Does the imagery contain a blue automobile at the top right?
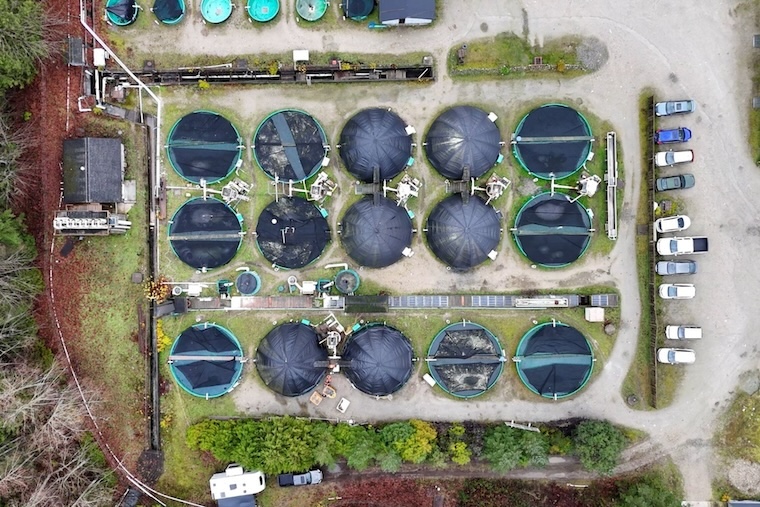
Yes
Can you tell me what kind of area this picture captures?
industrial area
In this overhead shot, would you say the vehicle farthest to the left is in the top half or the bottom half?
bottom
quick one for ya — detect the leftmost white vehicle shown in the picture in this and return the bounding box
[211,462,275,507]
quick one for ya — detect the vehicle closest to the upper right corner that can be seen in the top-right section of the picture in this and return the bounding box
[653,98,695,117]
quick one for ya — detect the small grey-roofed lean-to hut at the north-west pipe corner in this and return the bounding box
[65,34,85,66]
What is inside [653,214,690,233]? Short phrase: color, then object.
white car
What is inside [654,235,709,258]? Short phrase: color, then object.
white truck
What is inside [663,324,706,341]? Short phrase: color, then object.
white car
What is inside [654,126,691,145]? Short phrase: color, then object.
blue car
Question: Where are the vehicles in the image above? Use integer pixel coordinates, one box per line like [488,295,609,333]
[654,259,698,277]
[653,98,695,117]
[657,282,697,301]
[654,126,691,145]
[278,467,324,489]
[656,347,697,366]
[655,172,695,192]
[654,148,695,168]
[654,235,709,258]
[653,214,690,233]
[663,324,706,341]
